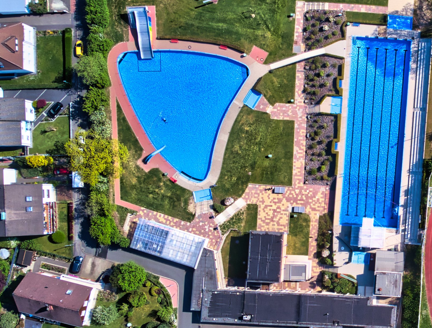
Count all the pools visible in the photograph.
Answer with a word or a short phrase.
2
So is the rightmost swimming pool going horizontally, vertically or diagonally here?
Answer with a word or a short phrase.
vertically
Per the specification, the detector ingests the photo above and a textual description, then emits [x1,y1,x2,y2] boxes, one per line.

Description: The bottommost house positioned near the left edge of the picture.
[12,272,108,328]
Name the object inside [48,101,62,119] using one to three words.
car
